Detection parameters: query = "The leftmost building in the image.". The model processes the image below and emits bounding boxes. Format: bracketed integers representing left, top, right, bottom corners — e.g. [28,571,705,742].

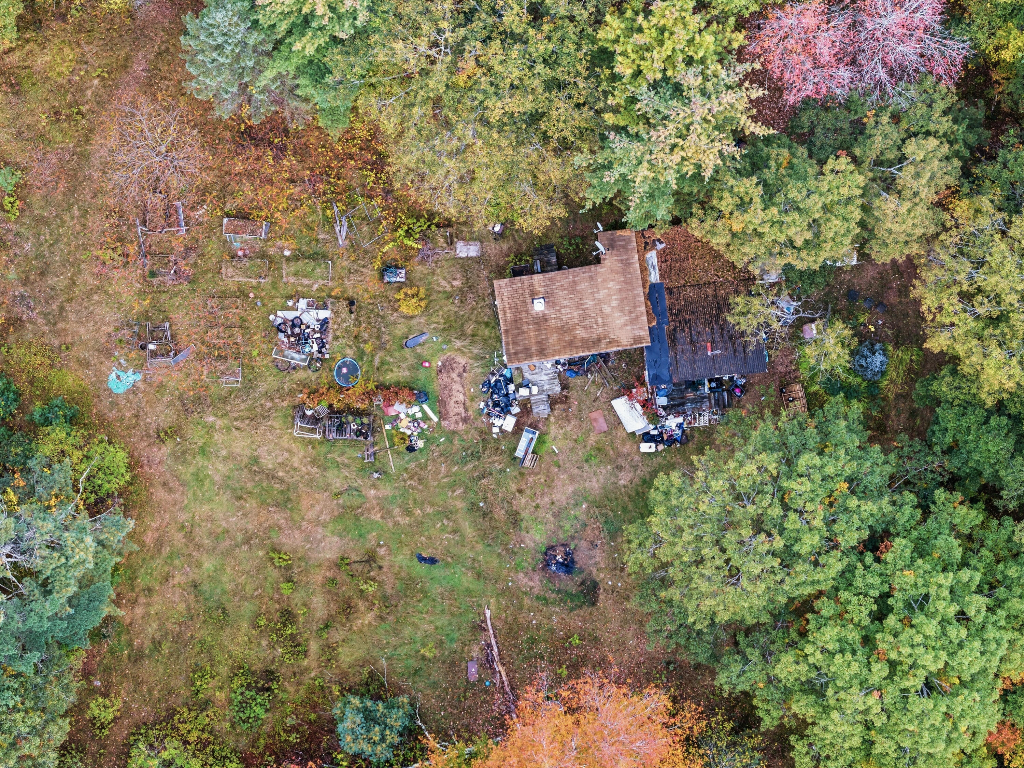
[493,226,652,368]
